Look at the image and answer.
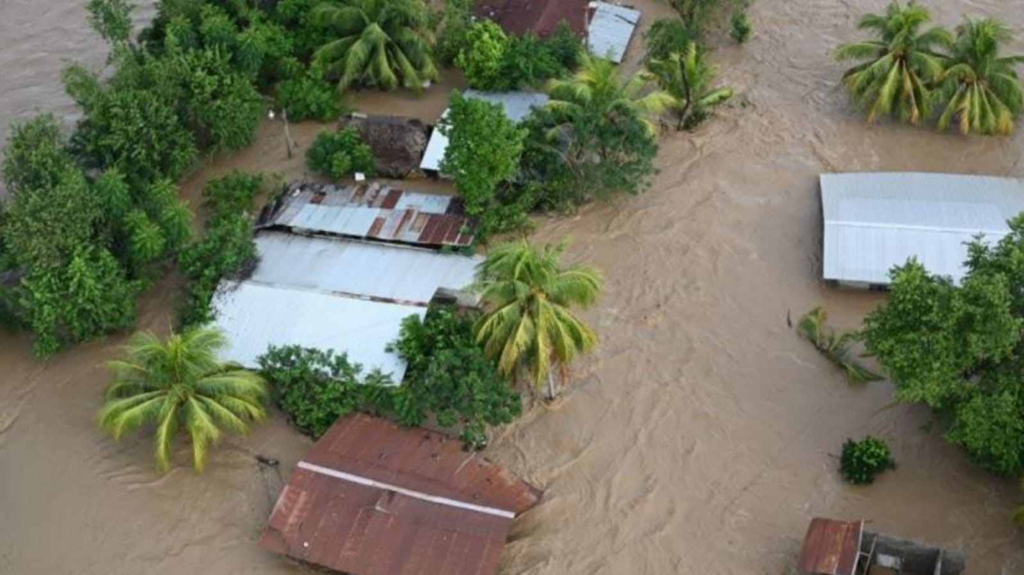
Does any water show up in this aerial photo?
Yes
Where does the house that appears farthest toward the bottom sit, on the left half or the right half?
right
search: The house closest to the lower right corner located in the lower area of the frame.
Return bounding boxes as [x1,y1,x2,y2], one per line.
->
[798,519,965,575]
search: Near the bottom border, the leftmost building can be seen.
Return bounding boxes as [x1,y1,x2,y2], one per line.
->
[260,416,543,575]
